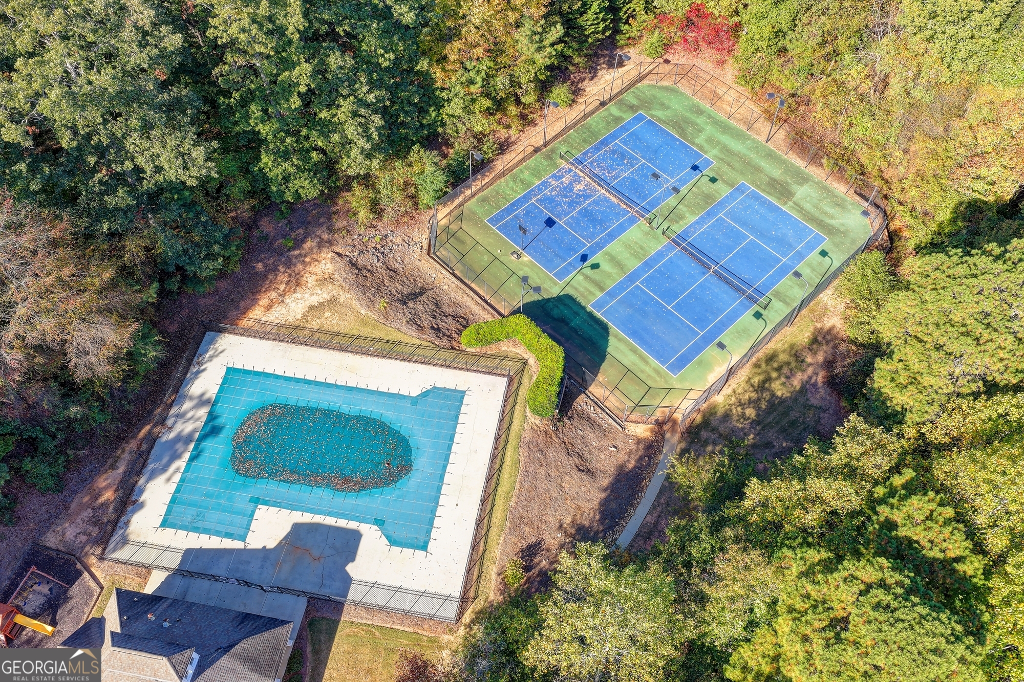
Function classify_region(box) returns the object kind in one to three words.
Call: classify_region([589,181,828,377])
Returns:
tennis court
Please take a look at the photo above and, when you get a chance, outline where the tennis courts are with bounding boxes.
[589,181,828,377]
[486,112,715,282]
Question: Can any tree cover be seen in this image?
Yes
